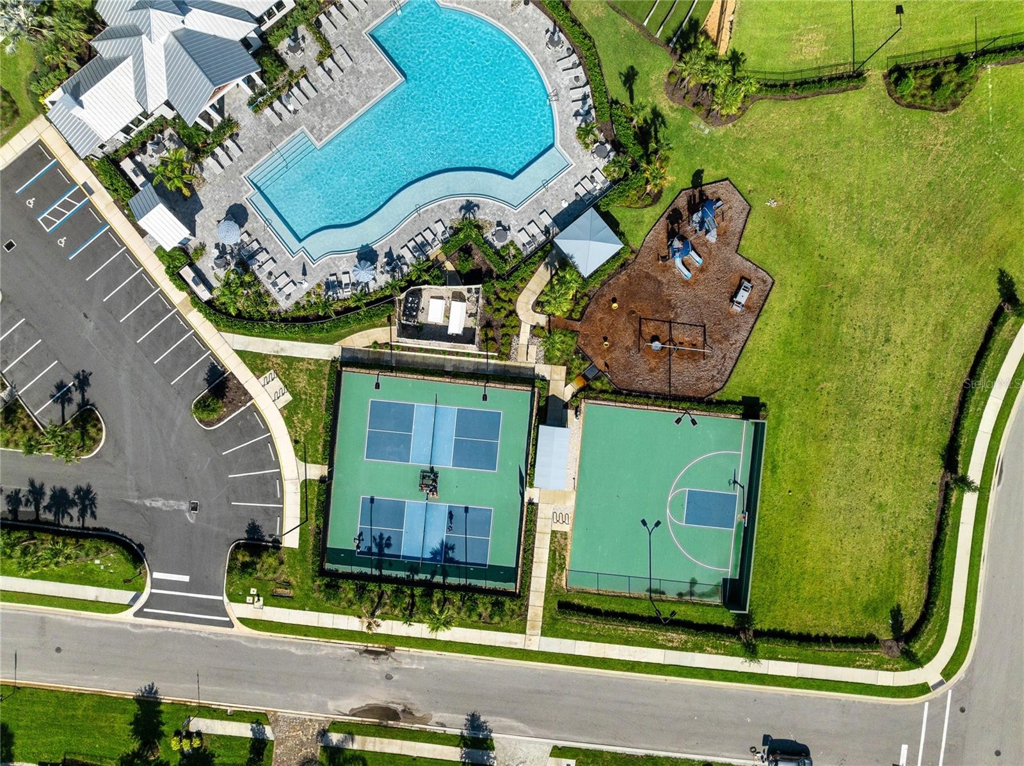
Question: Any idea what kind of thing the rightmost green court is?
basketball court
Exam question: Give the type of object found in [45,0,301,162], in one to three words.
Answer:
building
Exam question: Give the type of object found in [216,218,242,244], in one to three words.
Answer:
umbrella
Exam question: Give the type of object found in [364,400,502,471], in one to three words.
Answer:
sports court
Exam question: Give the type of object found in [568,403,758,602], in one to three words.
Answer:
basketball court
